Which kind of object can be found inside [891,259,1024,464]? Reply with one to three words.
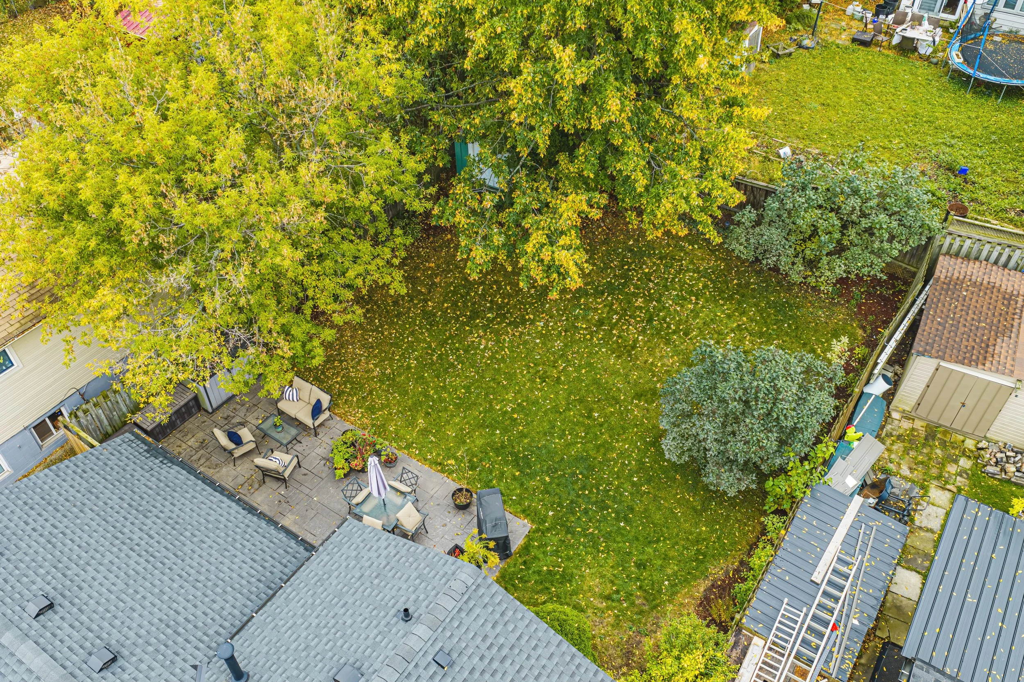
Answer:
shed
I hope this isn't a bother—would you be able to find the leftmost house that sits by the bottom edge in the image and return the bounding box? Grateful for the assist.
[0,425,622,682]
